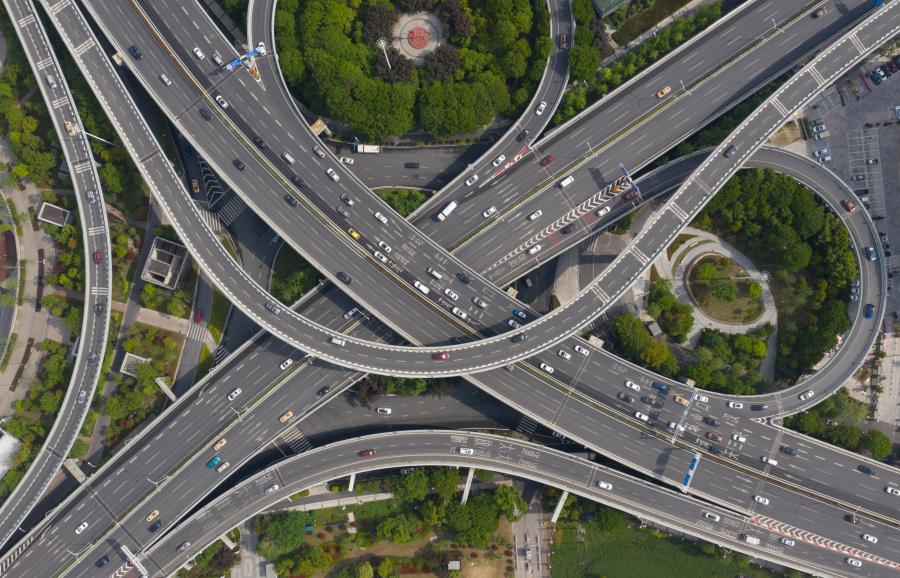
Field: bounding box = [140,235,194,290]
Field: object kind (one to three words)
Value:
building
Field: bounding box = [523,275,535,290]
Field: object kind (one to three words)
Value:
vehicle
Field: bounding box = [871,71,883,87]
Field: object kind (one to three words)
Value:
vehicle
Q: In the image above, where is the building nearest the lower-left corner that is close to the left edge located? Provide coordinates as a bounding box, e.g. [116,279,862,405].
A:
[0,426,32,488]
